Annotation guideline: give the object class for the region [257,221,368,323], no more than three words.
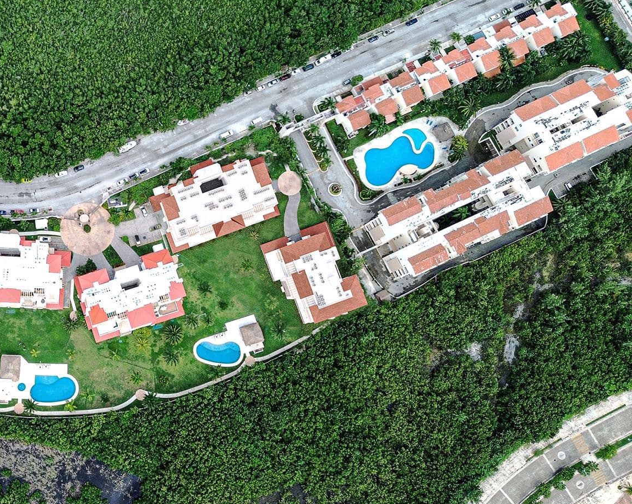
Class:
building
